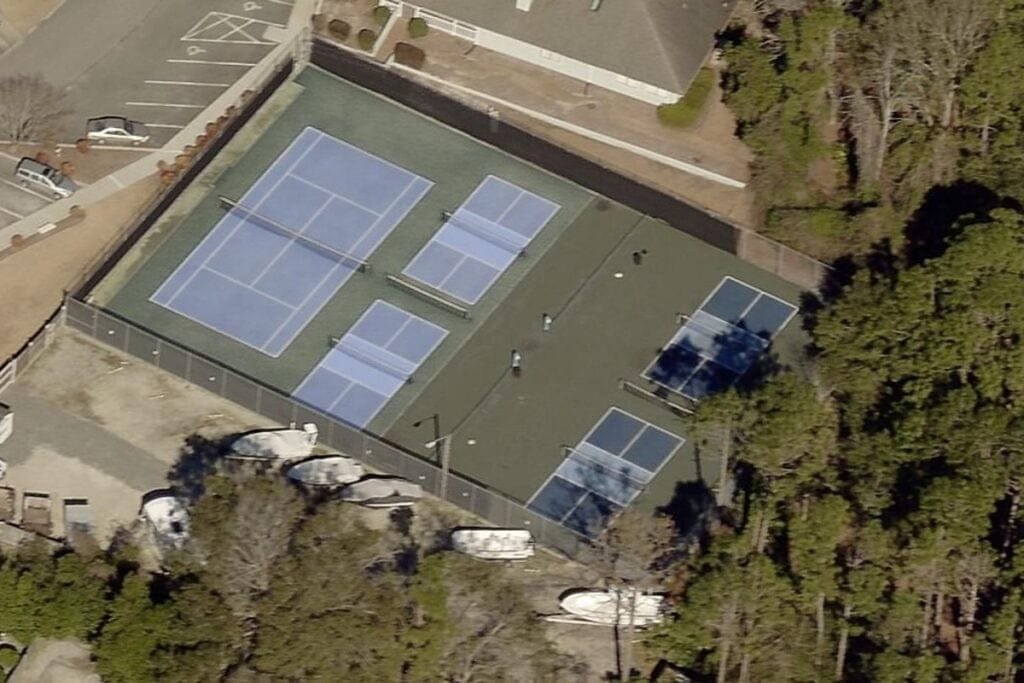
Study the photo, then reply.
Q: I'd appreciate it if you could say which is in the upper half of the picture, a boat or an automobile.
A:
automobile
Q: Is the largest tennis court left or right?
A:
left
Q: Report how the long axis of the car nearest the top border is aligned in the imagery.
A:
horizontally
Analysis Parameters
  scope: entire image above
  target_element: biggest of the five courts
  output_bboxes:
[151,127,435,356]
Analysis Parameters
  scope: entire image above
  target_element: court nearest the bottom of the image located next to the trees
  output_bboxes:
[525,408,684,539]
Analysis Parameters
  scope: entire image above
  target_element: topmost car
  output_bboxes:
[87,118,150,145]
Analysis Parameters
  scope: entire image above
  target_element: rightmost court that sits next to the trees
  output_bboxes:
[642,277,799,407]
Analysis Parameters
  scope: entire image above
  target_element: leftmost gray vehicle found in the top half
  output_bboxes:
[12,154,80,199]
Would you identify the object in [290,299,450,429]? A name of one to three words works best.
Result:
sports court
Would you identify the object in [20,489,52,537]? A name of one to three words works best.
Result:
trailer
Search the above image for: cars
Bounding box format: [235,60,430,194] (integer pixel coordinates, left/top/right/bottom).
[87,118,150,145]
[12,154,80,199]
